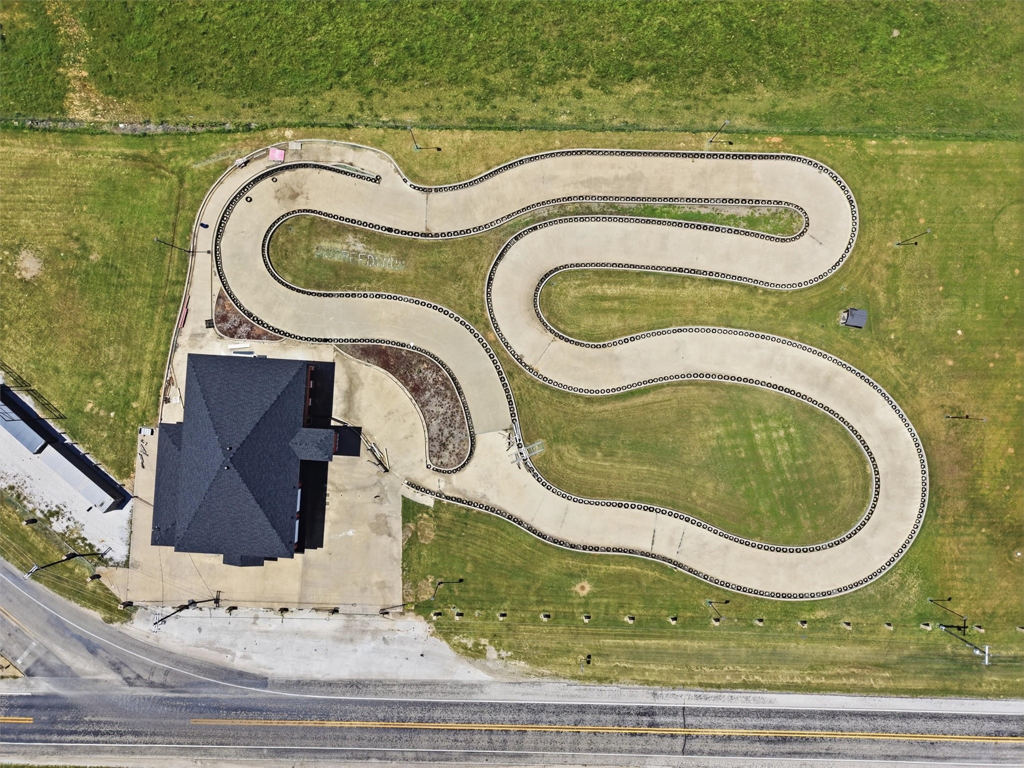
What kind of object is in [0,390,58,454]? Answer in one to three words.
shipping container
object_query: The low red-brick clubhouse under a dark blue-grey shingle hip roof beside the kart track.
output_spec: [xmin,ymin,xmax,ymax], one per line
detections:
[149,353,339,567]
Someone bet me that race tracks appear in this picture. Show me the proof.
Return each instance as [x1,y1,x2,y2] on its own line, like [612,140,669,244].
[221,156,920,592]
